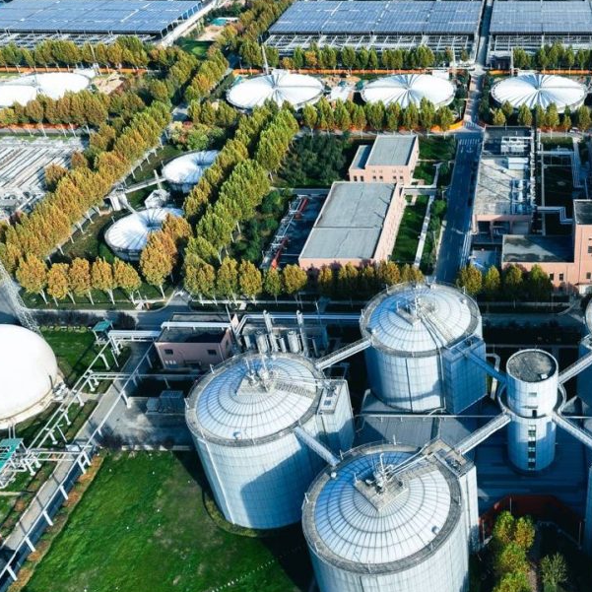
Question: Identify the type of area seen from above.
industrial area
